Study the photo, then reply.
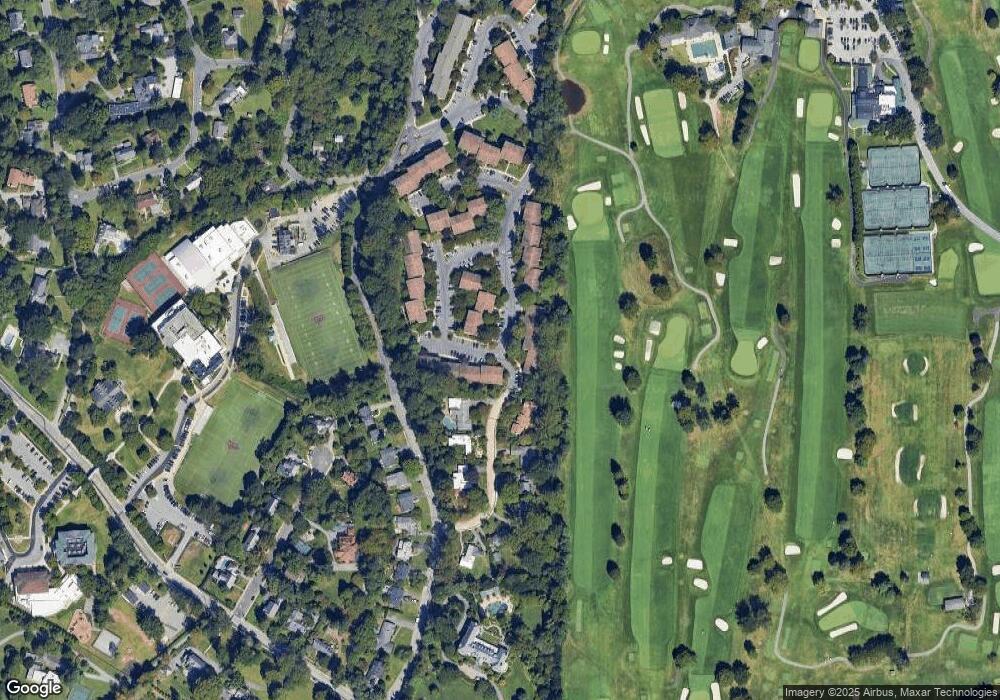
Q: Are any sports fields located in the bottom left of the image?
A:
Yes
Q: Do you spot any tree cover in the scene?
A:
Yes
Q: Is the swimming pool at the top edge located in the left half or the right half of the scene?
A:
right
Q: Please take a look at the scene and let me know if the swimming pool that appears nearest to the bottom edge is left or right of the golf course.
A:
to the left of it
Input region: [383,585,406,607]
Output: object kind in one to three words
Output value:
house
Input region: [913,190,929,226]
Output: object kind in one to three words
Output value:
tennis court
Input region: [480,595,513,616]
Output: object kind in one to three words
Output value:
swimming pool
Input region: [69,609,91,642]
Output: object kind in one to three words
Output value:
playground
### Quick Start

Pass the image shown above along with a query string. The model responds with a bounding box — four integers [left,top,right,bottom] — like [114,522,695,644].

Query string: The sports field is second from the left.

[174,375,284,506]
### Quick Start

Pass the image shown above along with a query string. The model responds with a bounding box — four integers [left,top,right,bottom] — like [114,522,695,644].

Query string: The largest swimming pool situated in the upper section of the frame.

[686,32,725,62]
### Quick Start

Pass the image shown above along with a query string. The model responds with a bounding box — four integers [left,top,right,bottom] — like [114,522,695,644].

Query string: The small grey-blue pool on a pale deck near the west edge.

[1,326,18,349]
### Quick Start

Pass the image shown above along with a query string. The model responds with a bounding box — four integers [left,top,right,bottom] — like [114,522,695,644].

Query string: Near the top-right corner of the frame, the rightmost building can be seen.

[849,64,902,129]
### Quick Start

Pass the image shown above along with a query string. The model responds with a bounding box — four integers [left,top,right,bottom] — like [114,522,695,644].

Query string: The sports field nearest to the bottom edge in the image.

[105,603,156,664]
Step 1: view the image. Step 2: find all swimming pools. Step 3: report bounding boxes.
[686,32,725,62]
[1,326,18,349]
[480,595,513,616]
